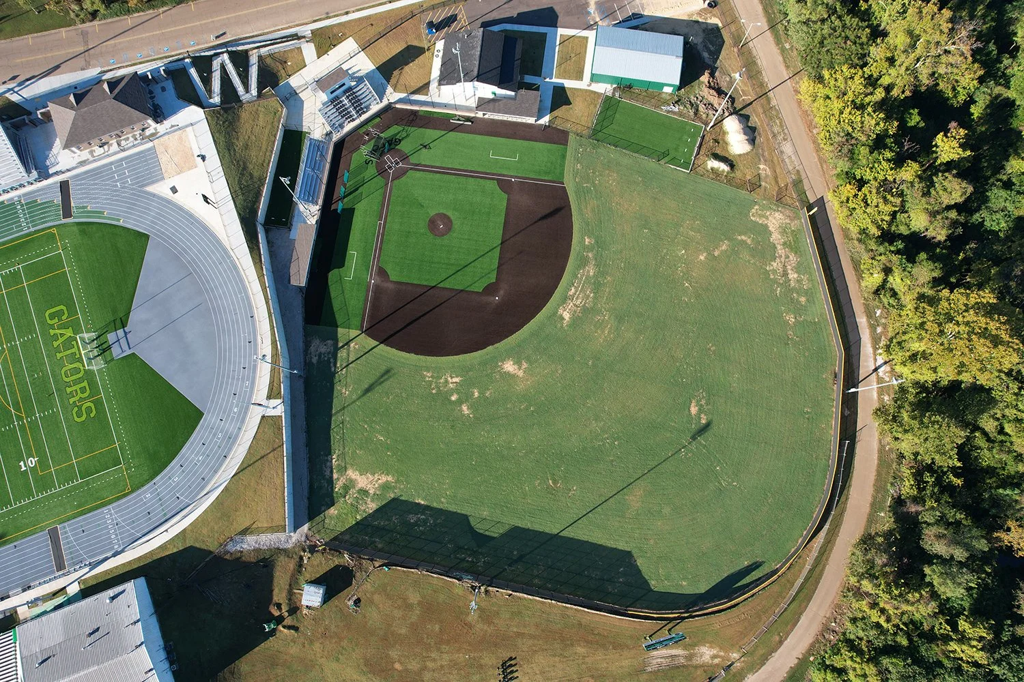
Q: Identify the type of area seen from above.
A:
sports ground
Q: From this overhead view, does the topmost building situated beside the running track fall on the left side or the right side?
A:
left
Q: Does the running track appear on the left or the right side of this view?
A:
left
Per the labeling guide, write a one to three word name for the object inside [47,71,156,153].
building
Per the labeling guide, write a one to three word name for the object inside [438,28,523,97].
building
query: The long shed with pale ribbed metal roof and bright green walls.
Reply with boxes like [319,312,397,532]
[591,25,684,92]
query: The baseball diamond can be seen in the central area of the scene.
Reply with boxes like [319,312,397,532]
[302,107,838,612]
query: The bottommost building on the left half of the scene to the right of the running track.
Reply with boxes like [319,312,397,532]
[297,582,330,609]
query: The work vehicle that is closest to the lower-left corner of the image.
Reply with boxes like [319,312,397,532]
[257,620,278,635]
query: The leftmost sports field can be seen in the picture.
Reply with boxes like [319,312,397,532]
[0,222,217,549]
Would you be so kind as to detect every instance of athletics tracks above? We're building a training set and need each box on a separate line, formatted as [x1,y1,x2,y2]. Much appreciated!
[0,128,259,593]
